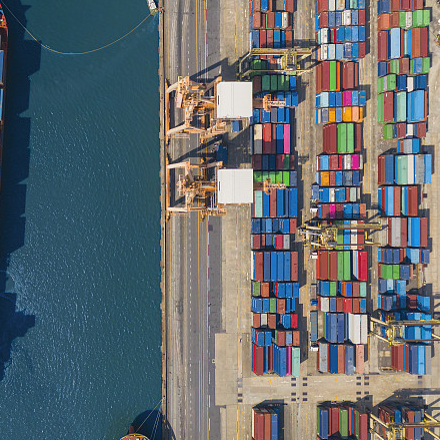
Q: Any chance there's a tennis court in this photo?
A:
No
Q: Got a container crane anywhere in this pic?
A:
Yes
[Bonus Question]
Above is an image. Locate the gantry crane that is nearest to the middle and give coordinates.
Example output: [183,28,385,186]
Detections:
[166,152,282,224]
